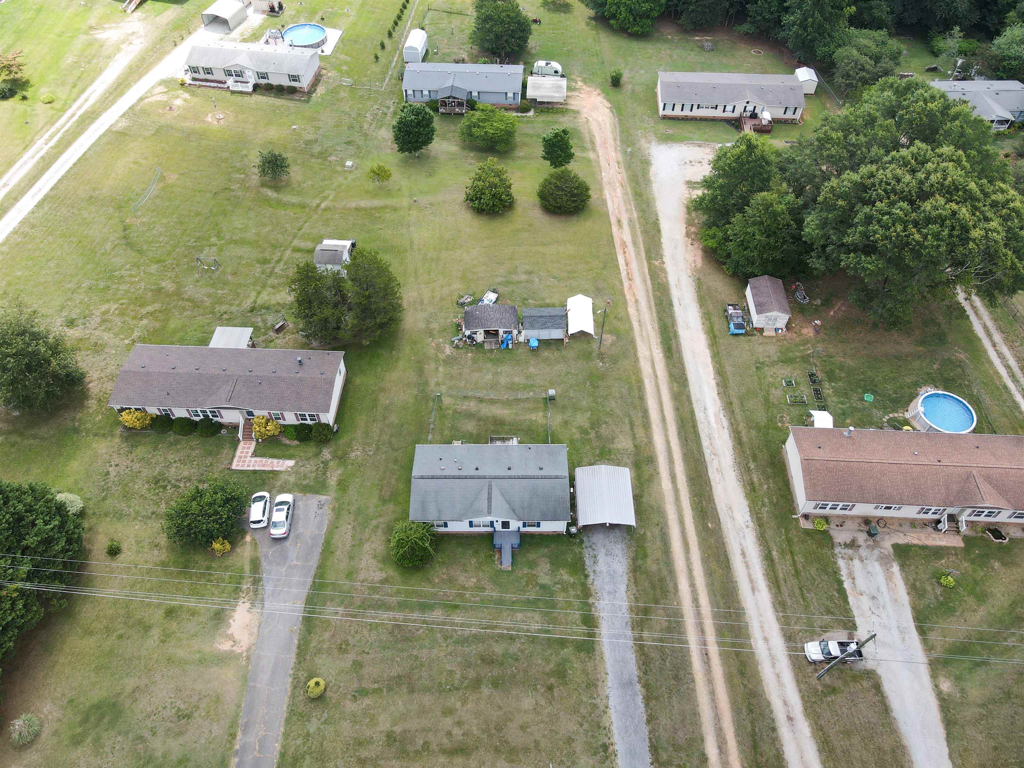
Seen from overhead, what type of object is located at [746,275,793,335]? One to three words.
shed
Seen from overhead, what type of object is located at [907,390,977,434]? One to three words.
swimming pool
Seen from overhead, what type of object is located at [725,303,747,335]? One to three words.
truck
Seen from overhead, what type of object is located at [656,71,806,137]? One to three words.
house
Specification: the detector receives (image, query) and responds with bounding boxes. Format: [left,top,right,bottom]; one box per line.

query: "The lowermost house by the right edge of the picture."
[783,426,1024,534]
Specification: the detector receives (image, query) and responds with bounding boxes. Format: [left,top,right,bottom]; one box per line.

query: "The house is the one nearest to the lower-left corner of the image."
[107,345,345,441]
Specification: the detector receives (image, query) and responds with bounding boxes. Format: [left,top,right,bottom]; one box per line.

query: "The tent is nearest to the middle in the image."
[569,294,596,347]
